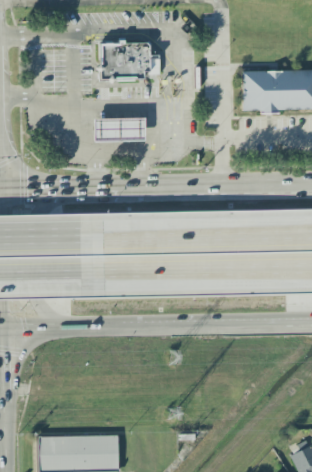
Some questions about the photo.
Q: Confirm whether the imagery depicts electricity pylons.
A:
Yes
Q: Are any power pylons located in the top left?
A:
No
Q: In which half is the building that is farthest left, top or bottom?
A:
bottom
